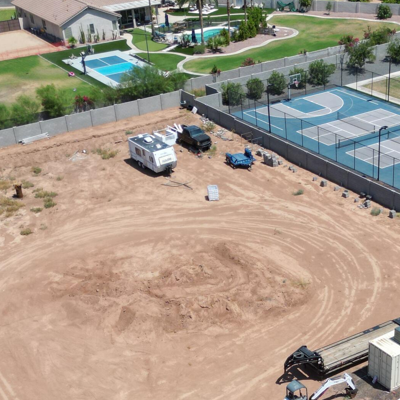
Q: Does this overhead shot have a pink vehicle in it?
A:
No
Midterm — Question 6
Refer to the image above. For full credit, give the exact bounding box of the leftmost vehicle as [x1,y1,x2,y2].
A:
[128,134,174,175]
